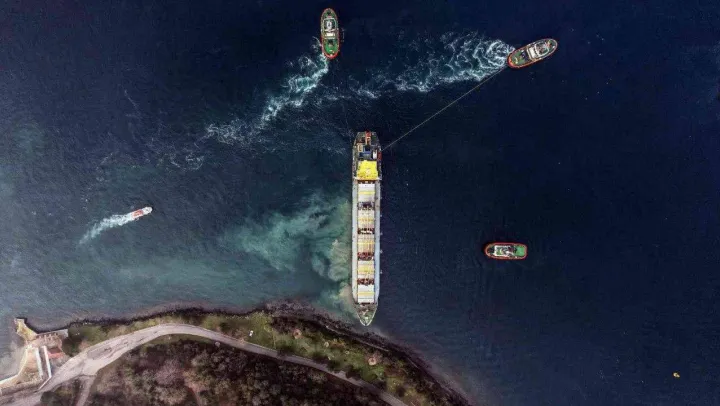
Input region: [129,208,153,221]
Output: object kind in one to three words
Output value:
boat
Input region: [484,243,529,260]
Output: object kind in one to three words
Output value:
boat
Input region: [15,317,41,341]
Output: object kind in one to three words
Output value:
pier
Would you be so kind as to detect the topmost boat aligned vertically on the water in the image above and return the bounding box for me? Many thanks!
[320,6,340,58]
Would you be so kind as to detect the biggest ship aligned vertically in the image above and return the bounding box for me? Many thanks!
[352,130,382,326]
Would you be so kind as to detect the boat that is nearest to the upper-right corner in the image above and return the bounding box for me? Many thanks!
[508,38,558,67]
